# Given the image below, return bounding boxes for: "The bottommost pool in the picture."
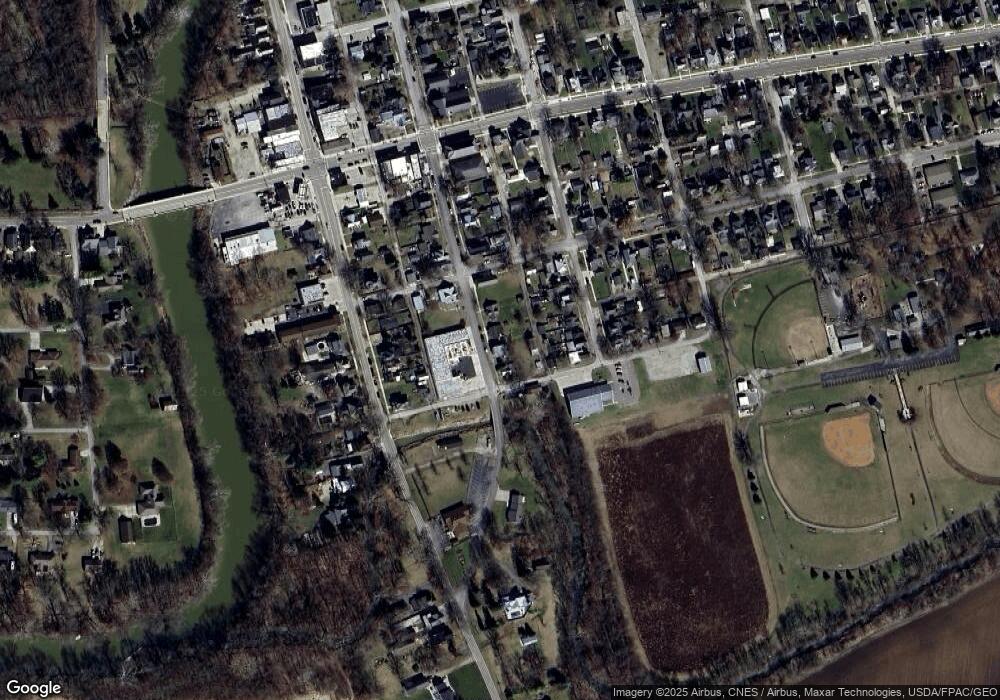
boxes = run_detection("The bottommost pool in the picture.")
[141,515,160,528]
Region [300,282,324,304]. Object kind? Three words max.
building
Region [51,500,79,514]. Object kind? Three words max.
house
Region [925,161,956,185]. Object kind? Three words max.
house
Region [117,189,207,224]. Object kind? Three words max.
bridge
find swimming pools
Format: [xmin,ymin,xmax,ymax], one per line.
[141,515,160,528]
[316,340,326,350]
